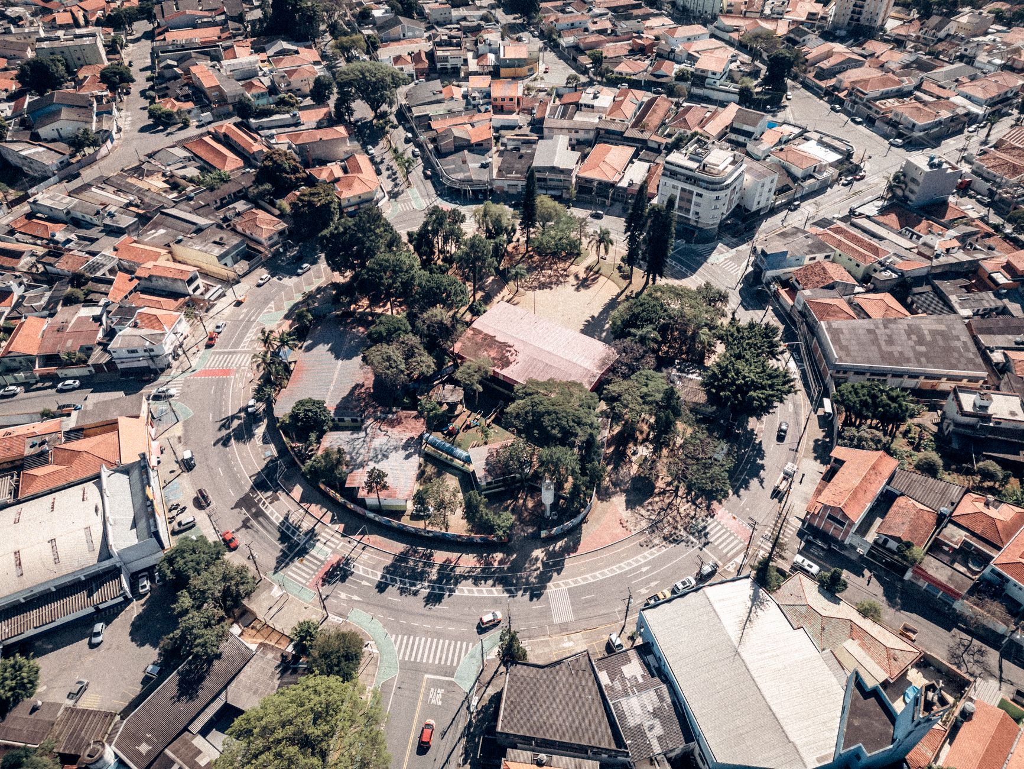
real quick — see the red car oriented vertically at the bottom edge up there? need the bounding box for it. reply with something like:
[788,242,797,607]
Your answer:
[417,717,436,750]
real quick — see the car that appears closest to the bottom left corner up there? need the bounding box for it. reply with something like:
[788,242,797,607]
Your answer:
[59,671,94,707]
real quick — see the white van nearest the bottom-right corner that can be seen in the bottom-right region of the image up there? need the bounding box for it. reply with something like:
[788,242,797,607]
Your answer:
[788,546,824,578]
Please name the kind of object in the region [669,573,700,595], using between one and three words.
car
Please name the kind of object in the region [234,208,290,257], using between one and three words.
house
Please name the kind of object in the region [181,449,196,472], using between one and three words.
vehicle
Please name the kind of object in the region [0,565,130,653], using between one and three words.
shed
